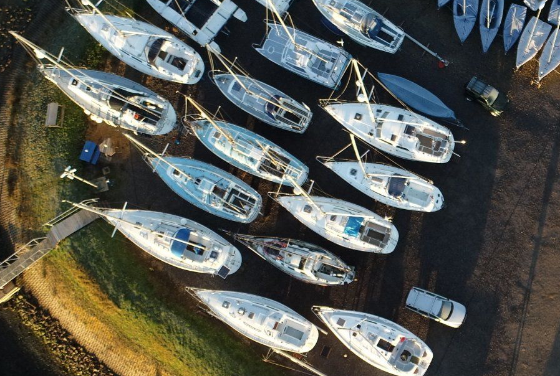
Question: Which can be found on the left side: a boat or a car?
boat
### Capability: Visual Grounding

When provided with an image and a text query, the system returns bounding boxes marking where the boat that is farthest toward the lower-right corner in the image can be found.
[307,305,438,375]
